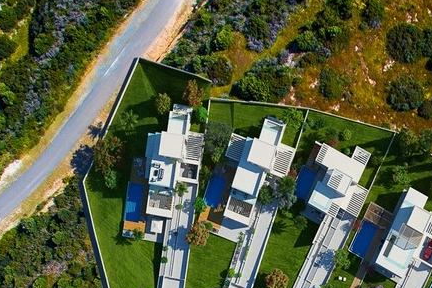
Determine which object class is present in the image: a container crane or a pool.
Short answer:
pool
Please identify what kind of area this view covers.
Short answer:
residential area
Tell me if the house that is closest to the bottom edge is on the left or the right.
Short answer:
right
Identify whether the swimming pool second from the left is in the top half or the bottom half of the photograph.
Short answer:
bottom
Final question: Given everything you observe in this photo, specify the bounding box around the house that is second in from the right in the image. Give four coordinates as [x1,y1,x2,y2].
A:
[308,141,371,218]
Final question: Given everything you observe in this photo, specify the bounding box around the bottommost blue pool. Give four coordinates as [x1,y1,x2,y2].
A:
[349,218,379,259]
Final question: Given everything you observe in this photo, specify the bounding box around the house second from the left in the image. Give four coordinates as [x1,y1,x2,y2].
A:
[223,119,296,230]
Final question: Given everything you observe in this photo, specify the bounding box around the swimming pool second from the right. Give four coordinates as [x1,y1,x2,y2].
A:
[293,165,318,201]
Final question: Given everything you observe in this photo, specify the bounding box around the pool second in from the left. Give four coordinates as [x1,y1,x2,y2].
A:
[203,175,226,209]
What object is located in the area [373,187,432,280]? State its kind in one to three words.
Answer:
house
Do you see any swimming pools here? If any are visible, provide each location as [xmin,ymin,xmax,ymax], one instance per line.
[123,181,144,223]
[349,218,379,259]
[293,165,318,201]
[203,175,226,209]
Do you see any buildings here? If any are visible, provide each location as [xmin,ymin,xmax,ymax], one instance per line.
[145,104,206,234]
[373,187,432,280]
[308,141,371,218]
[223,119,296,230]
